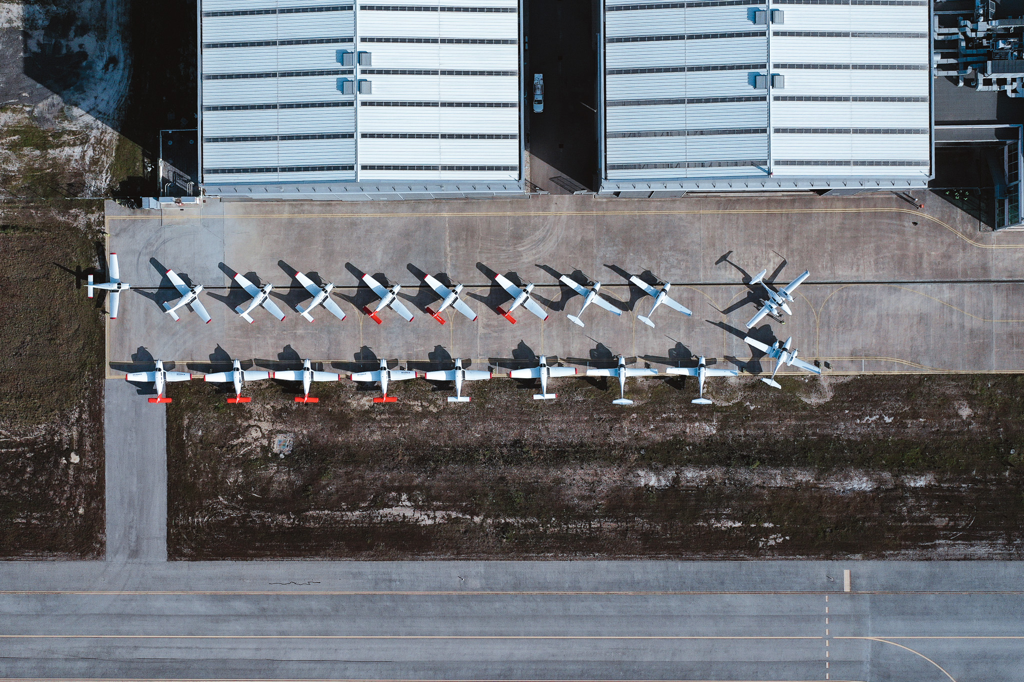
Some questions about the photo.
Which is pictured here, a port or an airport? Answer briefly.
airport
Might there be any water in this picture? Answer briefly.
No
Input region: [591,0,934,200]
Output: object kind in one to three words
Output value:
hangar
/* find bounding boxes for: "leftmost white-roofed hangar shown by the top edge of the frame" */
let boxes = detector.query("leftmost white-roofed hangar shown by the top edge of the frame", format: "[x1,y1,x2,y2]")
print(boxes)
[196,0,530,203]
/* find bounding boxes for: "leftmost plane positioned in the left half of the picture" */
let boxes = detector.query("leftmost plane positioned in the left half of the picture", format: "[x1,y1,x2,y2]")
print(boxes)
[85,253,133,318]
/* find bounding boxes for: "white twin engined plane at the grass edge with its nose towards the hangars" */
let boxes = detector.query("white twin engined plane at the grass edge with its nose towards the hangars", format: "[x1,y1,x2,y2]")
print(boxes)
[746,337,821,389]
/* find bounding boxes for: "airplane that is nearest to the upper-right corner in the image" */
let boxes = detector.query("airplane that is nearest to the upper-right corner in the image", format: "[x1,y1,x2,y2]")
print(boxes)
[747,268,809,326]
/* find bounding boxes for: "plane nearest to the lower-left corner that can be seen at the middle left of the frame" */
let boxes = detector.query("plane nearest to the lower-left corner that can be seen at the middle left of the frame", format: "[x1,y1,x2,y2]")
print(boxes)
[126,358,191,403]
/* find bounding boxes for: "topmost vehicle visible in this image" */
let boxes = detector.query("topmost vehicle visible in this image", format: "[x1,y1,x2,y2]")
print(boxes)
[532,72,545,112]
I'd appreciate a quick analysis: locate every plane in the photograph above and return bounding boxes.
[746,337,821,389]
[560,275,622,327]
[587,356,659,404]
[85,253,133,318]
[162,270,210,324]
[747,268,809,326]
[351,357,417,402]
[204,358,270,403]
[426,357,491,402]
[294,273,345,323]
[274,357,339,403]
[126,358,191,403]
[495,275,547,324]
[361,275,413,325]
[424,275,476,325]
[511,354,576,399]
[233,274,284,323]
[630,275,692,328]
[667,355,739,403]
